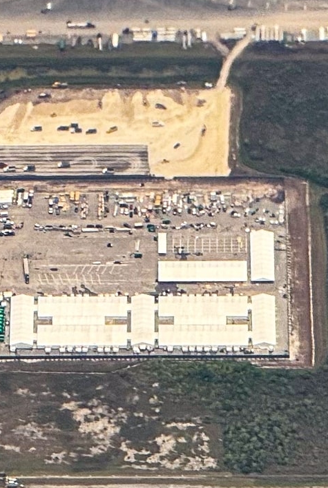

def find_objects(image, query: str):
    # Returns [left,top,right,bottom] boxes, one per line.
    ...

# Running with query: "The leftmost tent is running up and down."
[11,294,35,349]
